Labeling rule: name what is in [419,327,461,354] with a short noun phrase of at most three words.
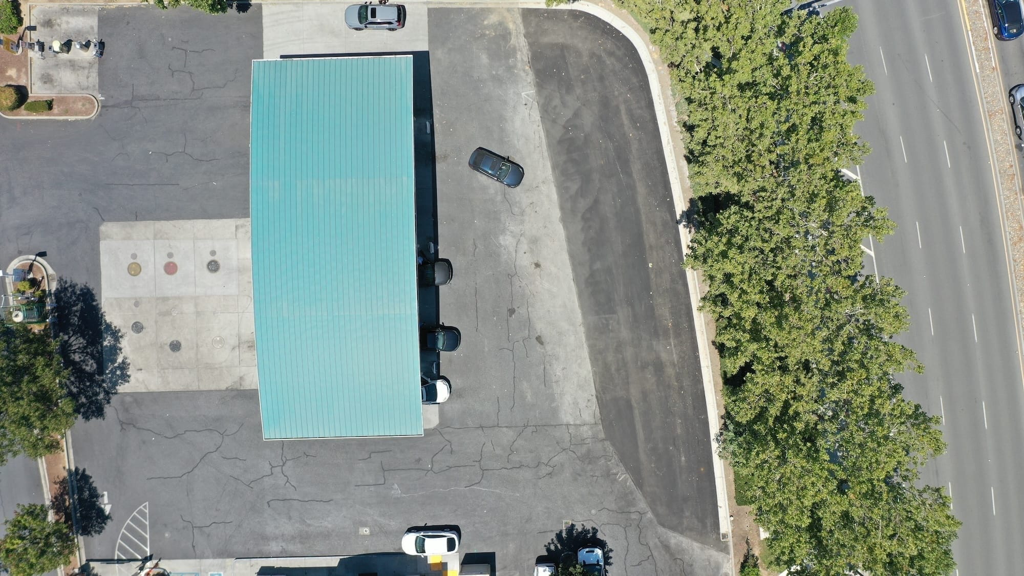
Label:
car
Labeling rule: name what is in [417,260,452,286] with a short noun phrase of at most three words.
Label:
car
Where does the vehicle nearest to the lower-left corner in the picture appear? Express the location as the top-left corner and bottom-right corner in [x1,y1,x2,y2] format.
[402,529,460,557]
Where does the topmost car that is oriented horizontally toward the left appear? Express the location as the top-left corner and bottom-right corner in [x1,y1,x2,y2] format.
[345,2,406,32]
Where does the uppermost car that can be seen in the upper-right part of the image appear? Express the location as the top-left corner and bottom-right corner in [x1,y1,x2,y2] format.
[986,0,1021,43]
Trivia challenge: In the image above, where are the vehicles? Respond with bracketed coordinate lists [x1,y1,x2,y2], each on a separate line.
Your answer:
[466,147,525,186]
[345,2,406,32]
[402,529,460,557]
[986,0,1021,43]
[419,327,461,354]
[421,372,451,406]
[533,562,557,576]
[1011,87,1024,143]
[579,546,605,576]
[417,260,452,286]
